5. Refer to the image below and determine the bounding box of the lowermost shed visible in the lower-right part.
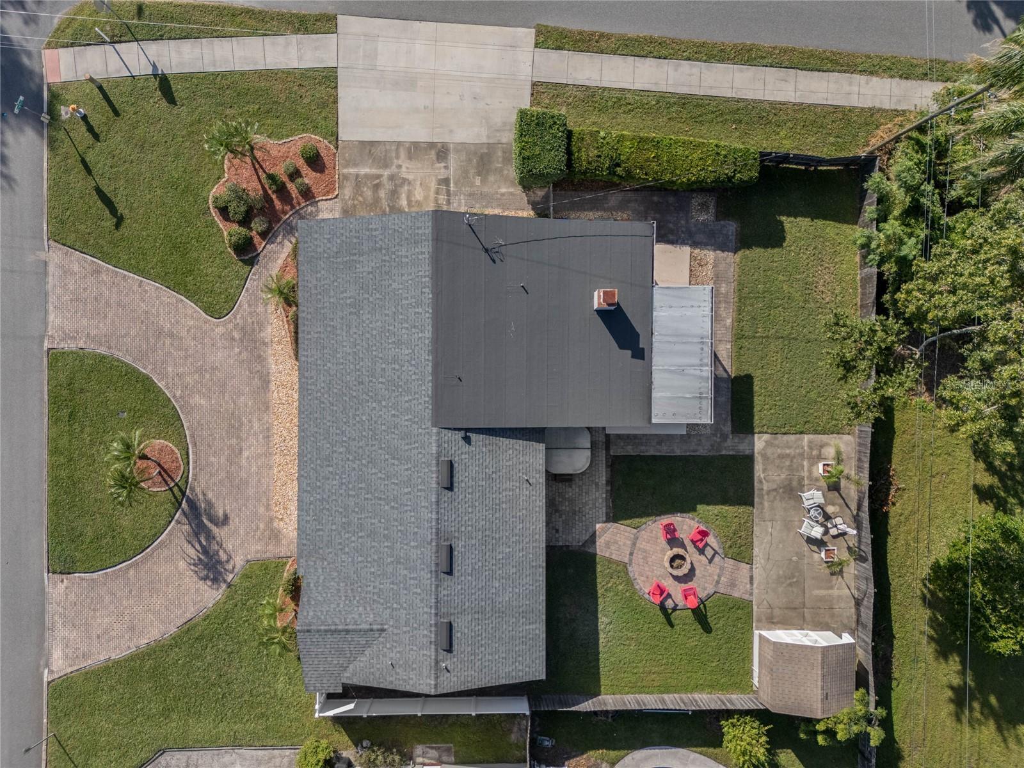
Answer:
[753,627,856,718]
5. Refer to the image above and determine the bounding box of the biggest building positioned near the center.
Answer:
[295,211,713,694]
